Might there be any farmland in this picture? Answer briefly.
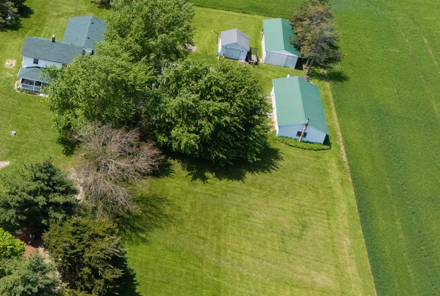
Yes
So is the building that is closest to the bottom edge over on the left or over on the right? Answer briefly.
right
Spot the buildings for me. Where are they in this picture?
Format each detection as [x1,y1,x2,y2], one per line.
[272,77,329,143]
[218,28,250,57]
[16,14,113,94]
[261,18,307,68]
